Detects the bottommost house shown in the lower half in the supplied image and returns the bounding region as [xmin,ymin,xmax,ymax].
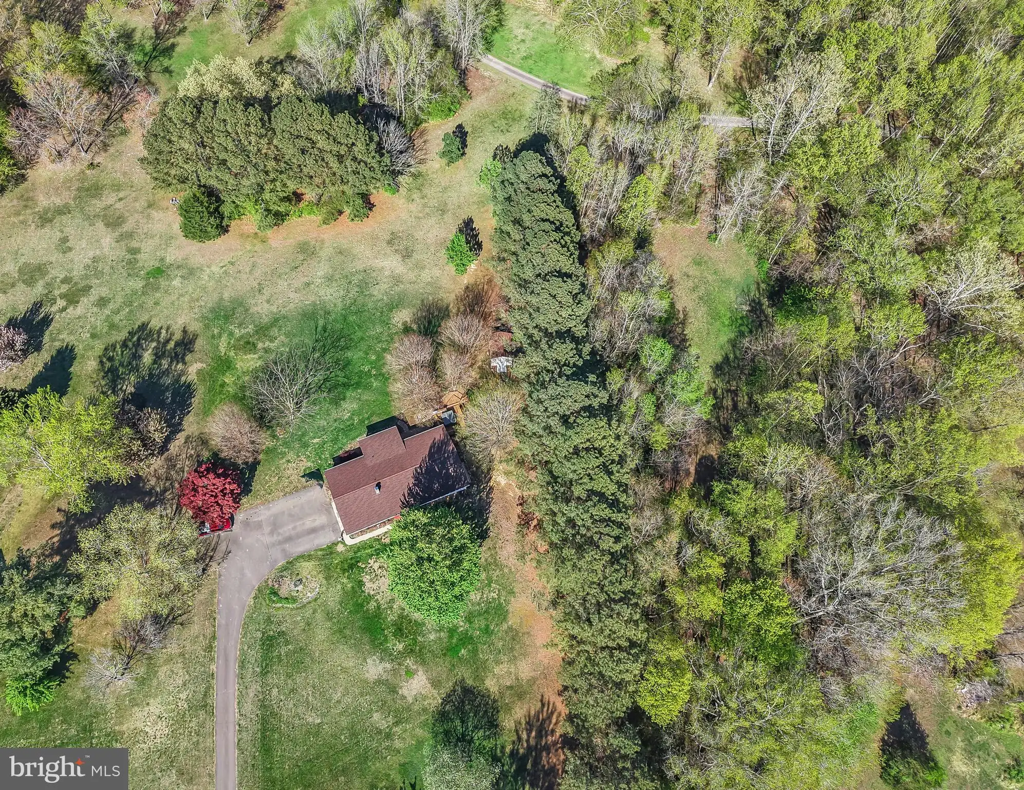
[324,424,469,535]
